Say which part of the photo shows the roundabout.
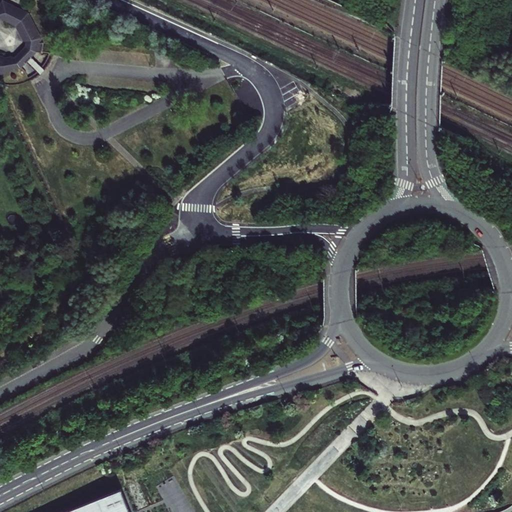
right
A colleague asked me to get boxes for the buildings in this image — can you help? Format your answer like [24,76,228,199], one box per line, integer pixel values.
[0,0,44,74]
[74,492,128,512]
[157,476,196,512]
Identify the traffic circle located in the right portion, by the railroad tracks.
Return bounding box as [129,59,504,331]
[328,194,512,384]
